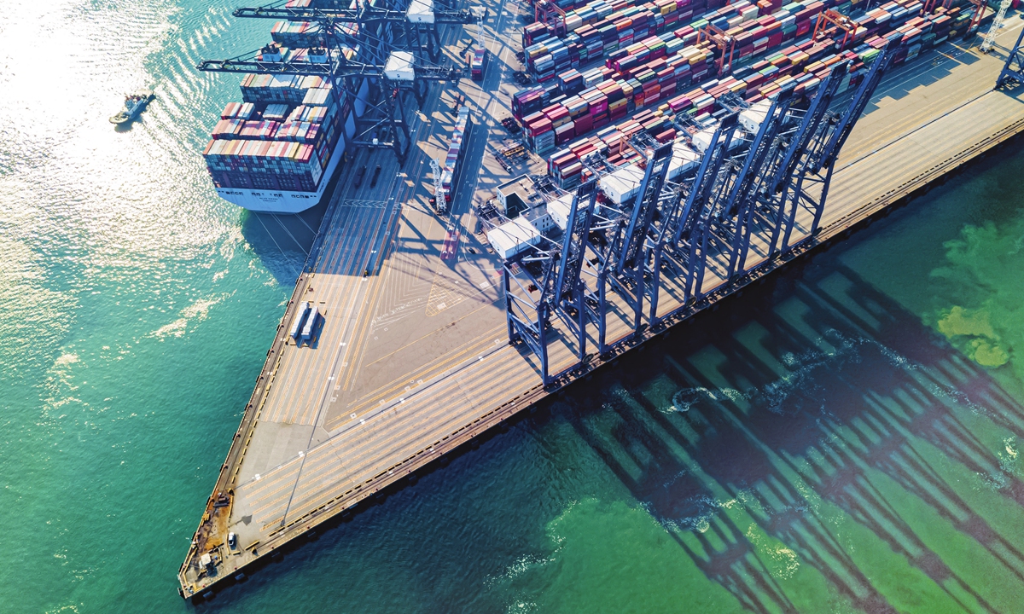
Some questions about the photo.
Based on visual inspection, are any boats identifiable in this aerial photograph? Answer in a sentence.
Yes, there is a boat in the image.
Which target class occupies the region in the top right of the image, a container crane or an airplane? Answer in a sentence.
What appears in the top right of the image is a container crane.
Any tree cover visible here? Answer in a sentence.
No, the scene doesn't show any tree cover.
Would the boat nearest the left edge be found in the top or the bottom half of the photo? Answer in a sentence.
Seen from above, the boat nearest the left edge lies in the top half of the view.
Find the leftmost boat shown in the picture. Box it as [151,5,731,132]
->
[107,87,157,120]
